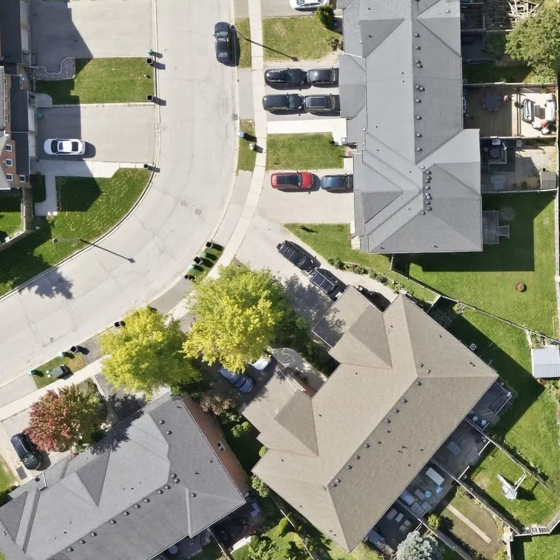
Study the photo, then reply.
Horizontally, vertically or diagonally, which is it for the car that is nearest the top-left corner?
horizontally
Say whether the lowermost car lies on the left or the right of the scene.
left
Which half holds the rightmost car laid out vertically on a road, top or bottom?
top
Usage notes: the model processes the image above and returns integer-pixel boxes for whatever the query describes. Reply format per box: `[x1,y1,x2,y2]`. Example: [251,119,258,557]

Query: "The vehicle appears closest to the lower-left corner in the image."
[12,429,44,470]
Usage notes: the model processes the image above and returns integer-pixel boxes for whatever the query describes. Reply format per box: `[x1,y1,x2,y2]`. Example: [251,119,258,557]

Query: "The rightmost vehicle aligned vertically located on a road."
[212,22,233,64]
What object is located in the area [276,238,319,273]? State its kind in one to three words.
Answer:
car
